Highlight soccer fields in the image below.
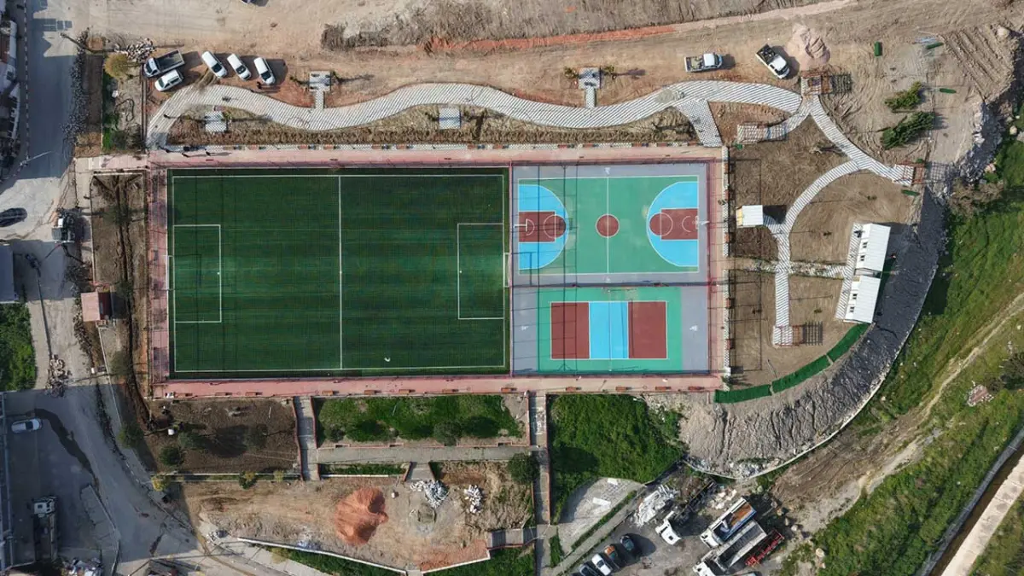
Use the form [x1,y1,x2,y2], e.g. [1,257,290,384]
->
[166,163,510,379]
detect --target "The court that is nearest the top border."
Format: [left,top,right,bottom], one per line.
[512,163,709,285]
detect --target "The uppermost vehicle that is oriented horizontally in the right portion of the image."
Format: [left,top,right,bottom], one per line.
[685,54,721,71]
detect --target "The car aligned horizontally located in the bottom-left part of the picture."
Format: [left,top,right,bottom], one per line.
[11,418,42,432]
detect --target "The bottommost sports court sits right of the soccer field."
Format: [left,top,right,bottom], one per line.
[512,286,710,375]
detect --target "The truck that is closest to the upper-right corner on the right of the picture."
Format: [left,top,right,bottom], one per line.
[758,45,788,79]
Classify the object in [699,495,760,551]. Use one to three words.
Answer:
truck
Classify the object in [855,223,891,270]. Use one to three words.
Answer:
building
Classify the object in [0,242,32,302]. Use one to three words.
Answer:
building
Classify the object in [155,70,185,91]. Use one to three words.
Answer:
car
